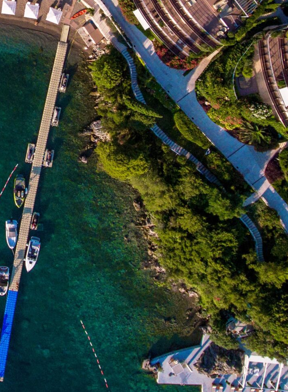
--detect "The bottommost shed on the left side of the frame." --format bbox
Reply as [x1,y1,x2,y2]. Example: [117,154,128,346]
[76,23,103,48]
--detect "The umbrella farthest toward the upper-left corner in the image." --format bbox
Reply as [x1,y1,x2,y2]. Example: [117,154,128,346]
[0,0,17,14]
